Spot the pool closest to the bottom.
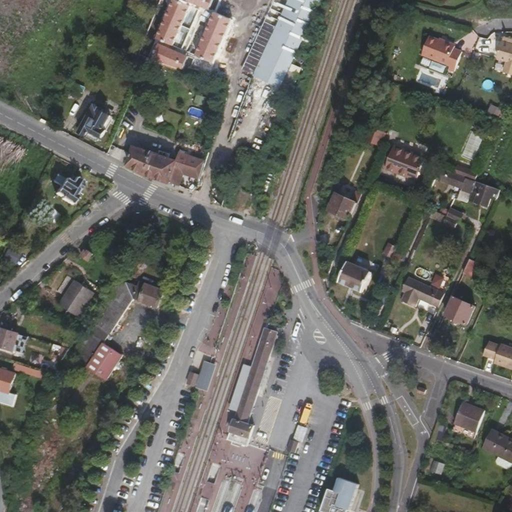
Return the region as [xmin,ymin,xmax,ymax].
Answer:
[414,268,431,280]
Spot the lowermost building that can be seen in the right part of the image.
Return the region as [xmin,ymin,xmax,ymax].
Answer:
[318,478,368,512]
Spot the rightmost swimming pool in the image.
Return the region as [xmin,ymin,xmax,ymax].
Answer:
[480,78,496,92]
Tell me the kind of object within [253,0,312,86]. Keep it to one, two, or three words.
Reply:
building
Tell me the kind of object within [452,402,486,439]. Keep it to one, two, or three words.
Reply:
house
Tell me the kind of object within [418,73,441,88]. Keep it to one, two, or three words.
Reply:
swimming pool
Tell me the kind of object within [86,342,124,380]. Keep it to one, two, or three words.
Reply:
building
